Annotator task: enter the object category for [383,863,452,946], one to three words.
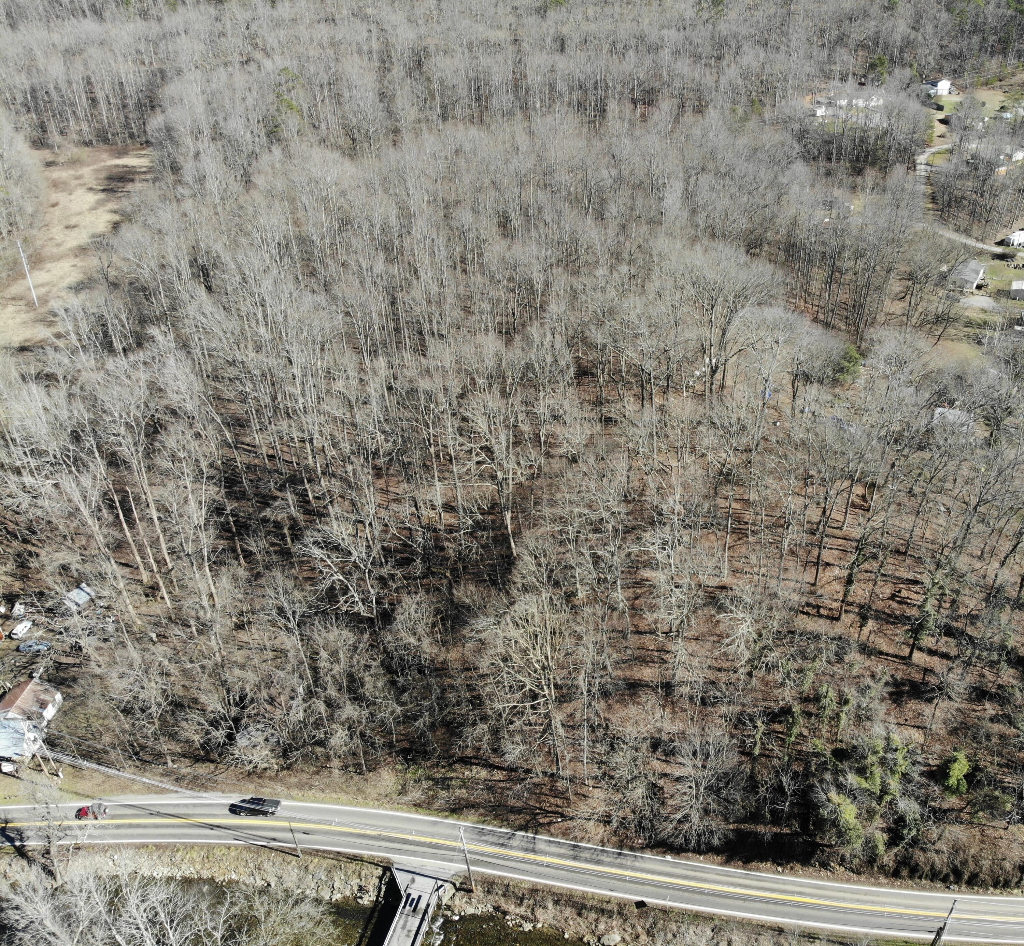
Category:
bridge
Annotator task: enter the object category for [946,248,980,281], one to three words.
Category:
house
